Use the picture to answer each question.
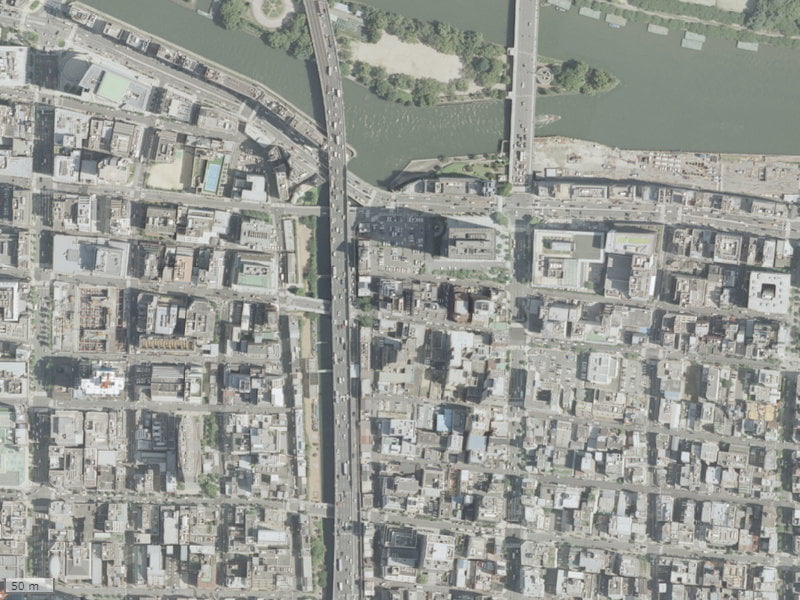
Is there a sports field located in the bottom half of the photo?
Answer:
No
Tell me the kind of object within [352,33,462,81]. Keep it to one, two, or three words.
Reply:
sports field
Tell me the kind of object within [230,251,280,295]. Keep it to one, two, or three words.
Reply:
building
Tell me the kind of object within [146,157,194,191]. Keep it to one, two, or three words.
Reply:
sports field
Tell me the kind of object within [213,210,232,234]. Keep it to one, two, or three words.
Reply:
building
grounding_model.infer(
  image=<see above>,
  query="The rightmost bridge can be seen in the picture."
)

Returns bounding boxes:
[506,0,539,187]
